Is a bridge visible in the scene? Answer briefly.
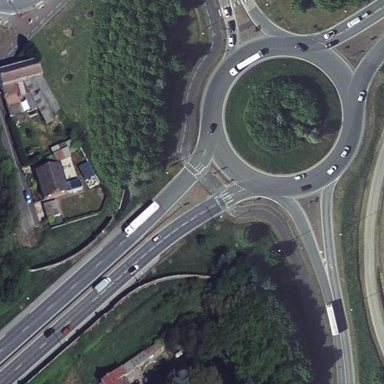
No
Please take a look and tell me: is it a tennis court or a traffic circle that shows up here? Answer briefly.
traffic circle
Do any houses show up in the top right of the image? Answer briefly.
No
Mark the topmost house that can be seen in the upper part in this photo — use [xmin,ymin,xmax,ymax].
[0,56,43,84]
